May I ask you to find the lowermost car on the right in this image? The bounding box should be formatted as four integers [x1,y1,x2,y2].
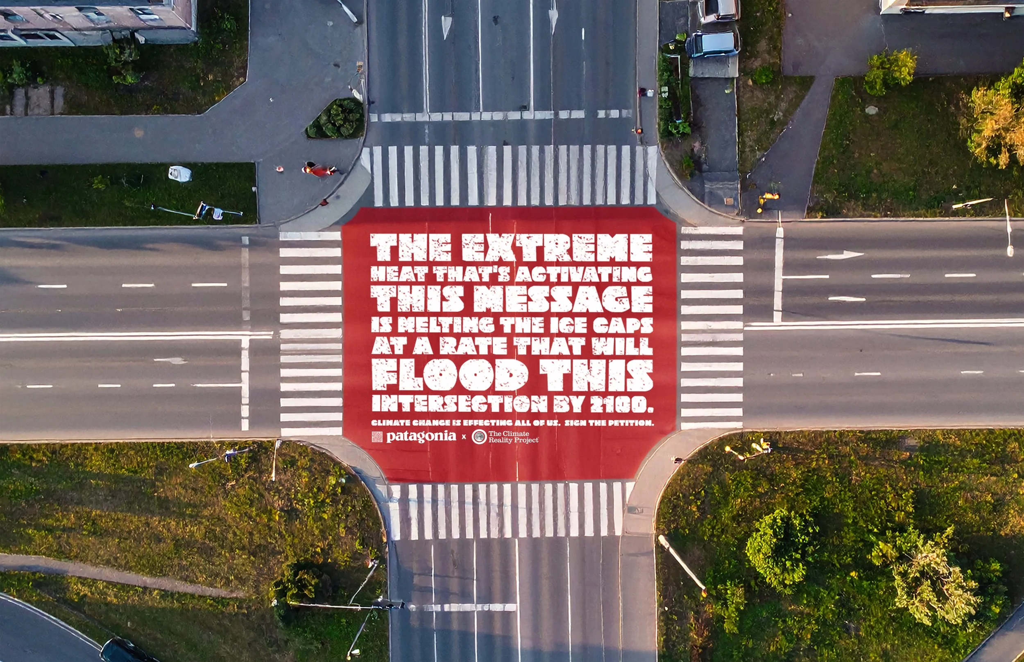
[686,28,745,61]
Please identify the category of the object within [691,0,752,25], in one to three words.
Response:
car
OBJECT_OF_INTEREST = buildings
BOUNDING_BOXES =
[881,0,1024,31]
[0,0,200,57]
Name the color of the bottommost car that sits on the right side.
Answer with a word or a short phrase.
blue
